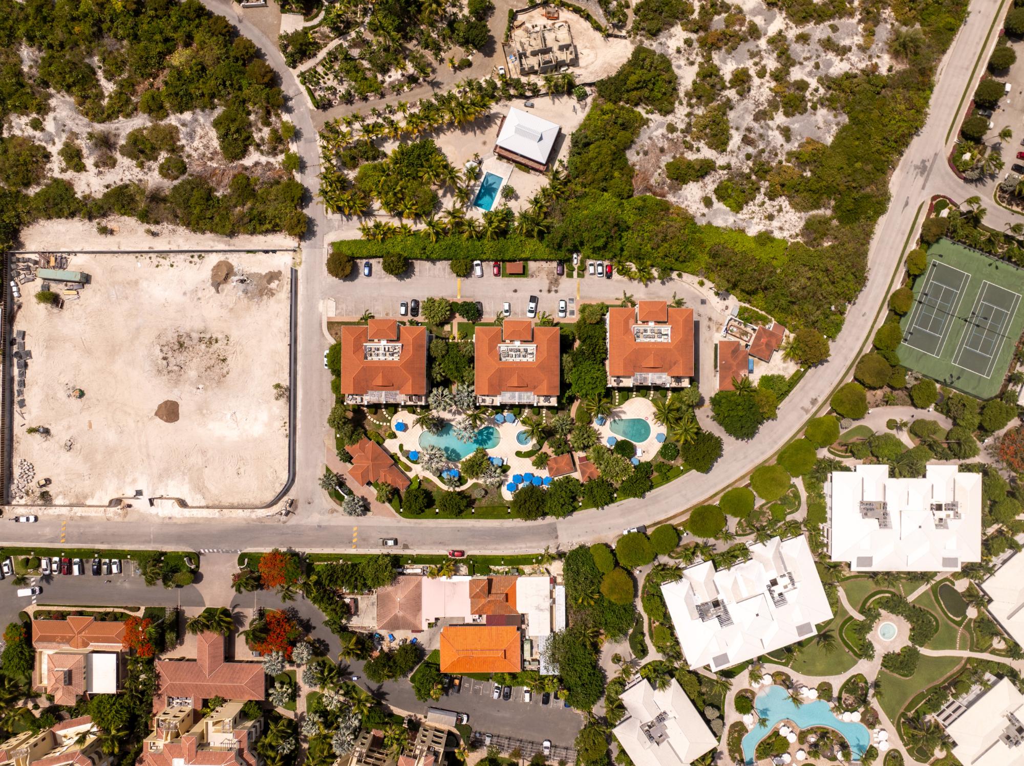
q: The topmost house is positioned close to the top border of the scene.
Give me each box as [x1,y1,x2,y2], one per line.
[508,19,579,74]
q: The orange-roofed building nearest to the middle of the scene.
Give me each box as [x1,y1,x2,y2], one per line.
[475,320,560,406]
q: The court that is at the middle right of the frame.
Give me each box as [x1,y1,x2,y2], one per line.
[902,260,1021,378]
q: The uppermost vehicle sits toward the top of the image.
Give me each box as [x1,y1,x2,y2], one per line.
[545,4,558,18]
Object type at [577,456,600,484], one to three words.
shed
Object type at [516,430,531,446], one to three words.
swimming pool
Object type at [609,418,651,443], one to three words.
swimming pool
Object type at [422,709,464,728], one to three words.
vehicle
